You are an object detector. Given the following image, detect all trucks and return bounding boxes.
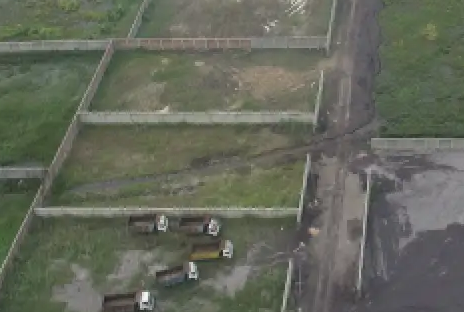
[97,288,157,312]
[187,236,234,260]
[123,212,169,234]
[175,213,221,237]
[151,257,199,285]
